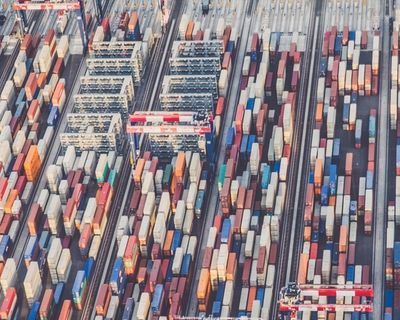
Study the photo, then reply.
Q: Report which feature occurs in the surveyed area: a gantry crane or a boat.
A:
gantry crane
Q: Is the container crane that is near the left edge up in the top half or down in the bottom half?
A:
top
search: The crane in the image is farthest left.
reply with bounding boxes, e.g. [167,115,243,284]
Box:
[14,0,89,52]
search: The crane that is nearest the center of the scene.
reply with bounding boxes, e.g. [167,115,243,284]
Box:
[127,109,215,179]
